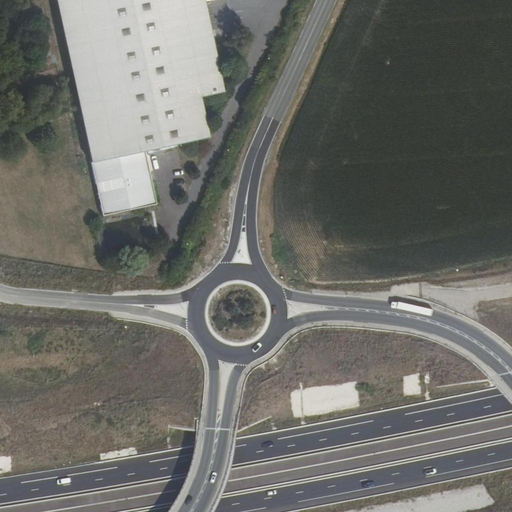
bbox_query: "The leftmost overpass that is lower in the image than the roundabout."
[168,408,237,512]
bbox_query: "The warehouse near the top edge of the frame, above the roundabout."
[58,0,226,162]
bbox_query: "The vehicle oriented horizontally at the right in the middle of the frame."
[391,302,434,316]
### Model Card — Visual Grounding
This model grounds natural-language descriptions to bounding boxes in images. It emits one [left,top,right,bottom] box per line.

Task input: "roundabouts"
[153,230,325,410]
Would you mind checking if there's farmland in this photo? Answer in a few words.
Yes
